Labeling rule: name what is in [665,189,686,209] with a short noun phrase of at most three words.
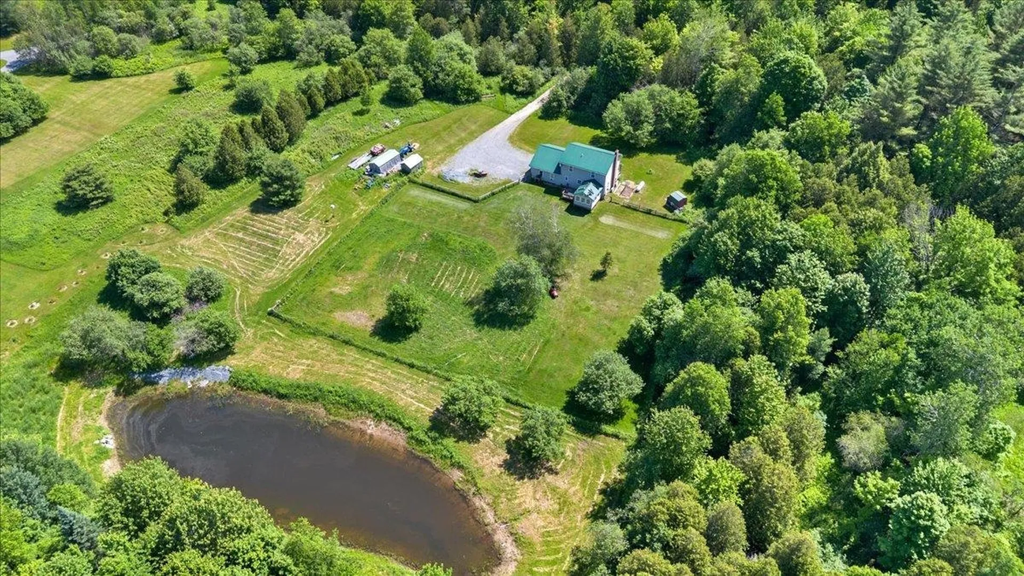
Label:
shed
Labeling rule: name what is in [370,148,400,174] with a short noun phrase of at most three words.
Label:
shed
